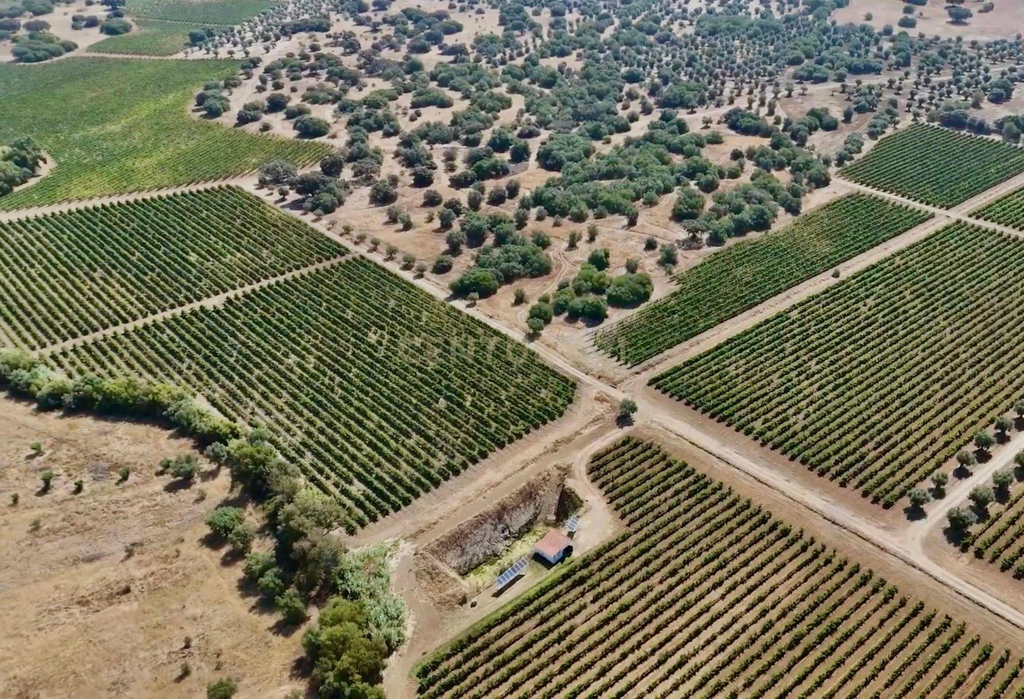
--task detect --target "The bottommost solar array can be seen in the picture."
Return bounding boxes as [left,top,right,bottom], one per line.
[494,563,530,590]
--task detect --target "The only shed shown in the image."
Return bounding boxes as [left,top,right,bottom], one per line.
[531,531,575,569]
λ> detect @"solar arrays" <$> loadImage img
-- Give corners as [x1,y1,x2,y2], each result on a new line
[566,519,581,534]
[494,563,530,590]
